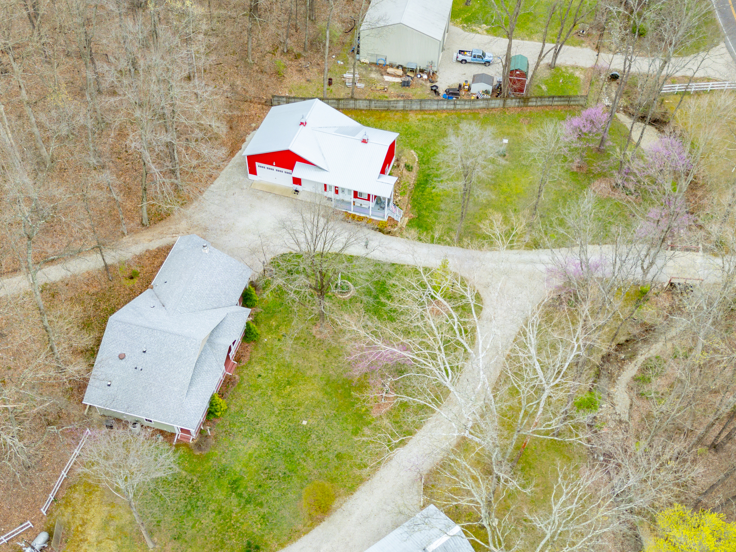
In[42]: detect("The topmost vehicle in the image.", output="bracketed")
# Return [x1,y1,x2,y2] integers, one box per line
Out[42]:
[456,47,497,66]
